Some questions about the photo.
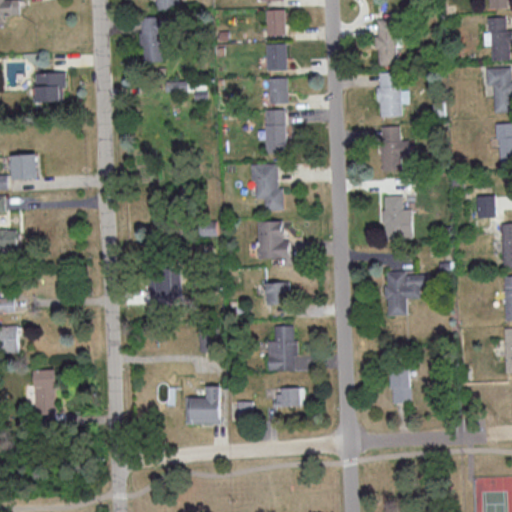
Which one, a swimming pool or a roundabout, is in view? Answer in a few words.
swimming pool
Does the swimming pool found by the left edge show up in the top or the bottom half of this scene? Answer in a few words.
top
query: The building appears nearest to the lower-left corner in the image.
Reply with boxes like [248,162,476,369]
[32,369,58,415]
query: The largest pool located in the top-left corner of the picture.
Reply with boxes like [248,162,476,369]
[4,60,34,91]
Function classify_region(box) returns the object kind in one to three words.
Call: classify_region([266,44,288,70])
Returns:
house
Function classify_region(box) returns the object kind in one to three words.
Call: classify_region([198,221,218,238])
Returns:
shed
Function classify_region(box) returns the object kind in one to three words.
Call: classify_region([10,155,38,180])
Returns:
house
